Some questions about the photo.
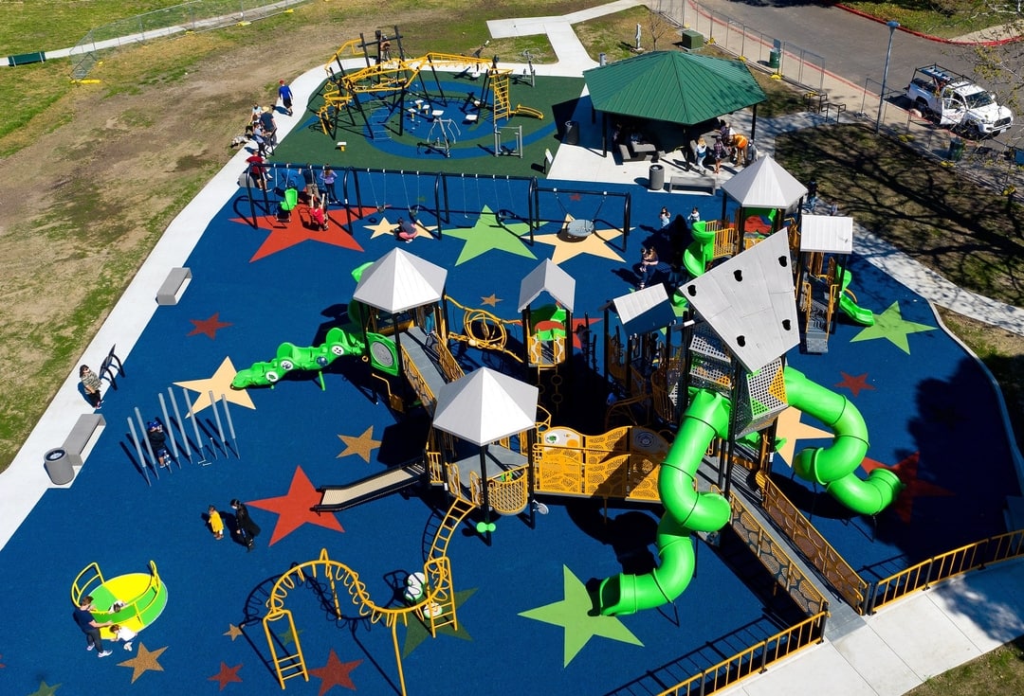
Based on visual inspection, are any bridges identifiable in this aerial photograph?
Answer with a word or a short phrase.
Yes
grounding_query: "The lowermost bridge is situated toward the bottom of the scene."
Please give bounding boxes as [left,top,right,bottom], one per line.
[535,429,704,537]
